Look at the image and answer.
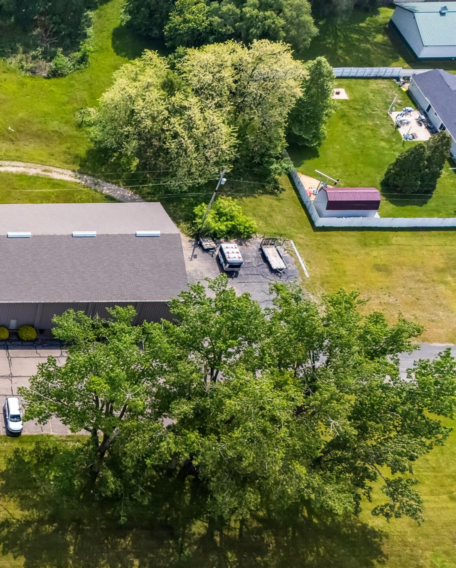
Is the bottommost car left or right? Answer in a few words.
left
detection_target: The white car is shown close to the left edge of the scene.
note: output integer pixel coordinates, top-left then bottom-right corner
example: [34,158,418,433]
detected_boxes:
[1,396,24,434]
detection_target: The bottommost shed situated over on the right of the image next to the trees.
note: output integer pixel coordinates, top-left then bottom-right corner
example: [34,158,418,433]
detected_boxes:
[312,185,379,217]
